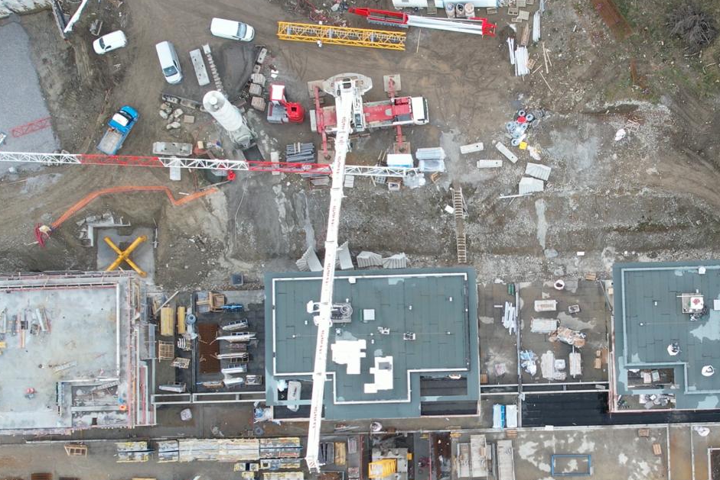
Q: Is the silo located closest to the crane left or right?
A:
left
